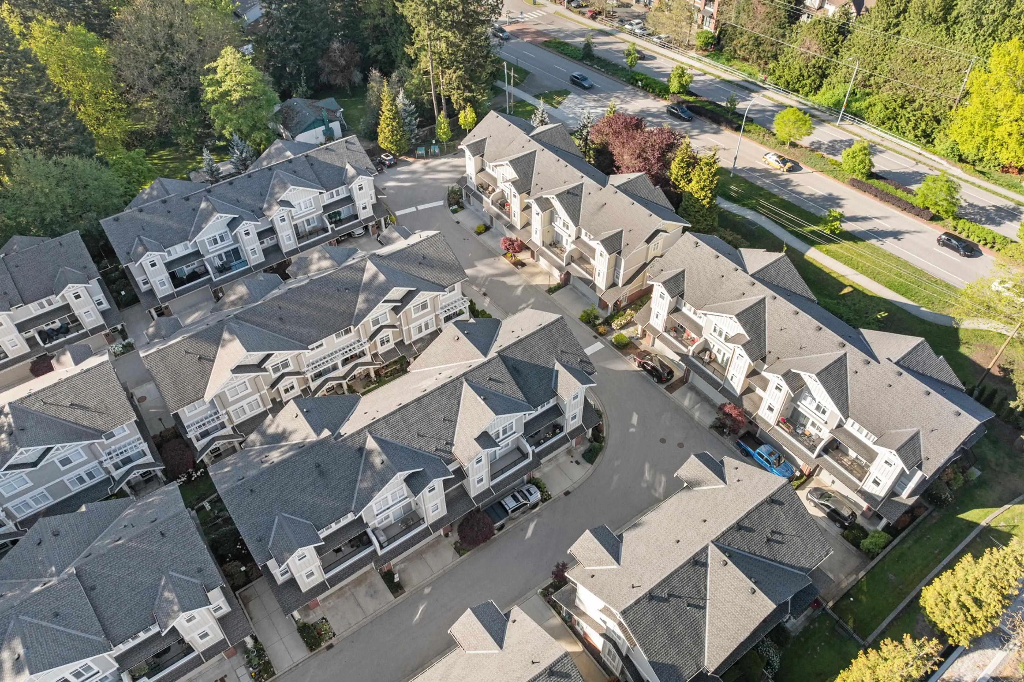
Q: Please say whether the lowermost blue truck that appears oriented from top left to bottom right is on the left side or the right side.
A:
right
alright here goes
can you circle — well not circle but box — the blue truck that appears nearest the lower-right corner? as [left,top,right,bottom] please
[735,433,794,480]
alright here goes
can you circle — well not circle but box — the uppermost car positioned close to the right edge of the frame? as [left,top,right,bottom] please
[939,231,981,257]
